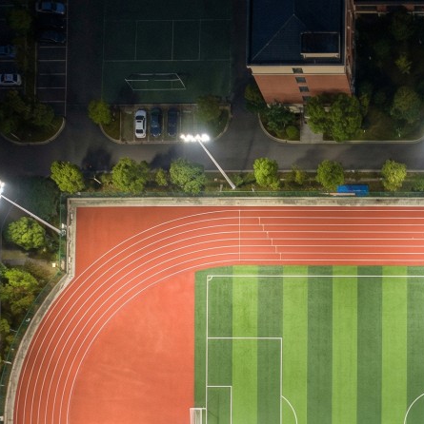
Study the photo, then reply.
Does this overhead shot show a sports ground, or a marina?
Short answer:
sports ground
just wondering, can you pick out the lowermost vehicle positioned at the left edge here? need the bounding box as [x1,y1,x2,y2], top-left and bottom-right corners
[0,74,22,86]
